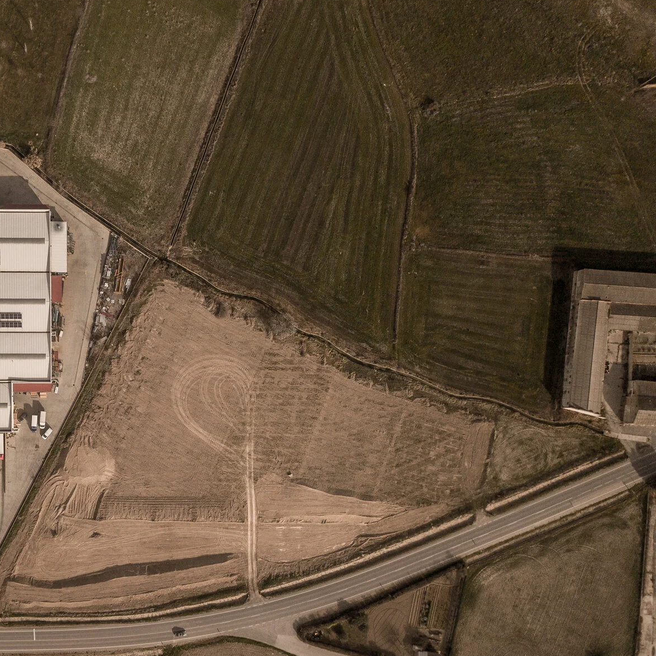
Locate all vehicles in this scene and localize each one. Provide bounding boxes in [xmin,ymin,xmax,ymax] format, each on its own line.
[16,412,27,423]
[173,631,186,638]
[41,426,52,441]
[39,411,46,429]
[32,414,37,433]
[53,385,59,395]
